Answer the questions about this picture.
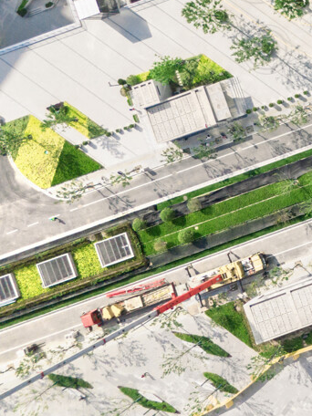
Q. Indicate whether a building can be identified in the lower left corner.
No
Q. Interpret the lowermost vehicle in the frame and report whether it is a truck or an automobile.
truck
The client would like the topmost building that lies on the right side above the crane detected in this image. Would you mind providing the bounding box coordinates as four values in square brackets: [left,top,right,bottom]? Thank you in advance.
[132,58,255,142]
